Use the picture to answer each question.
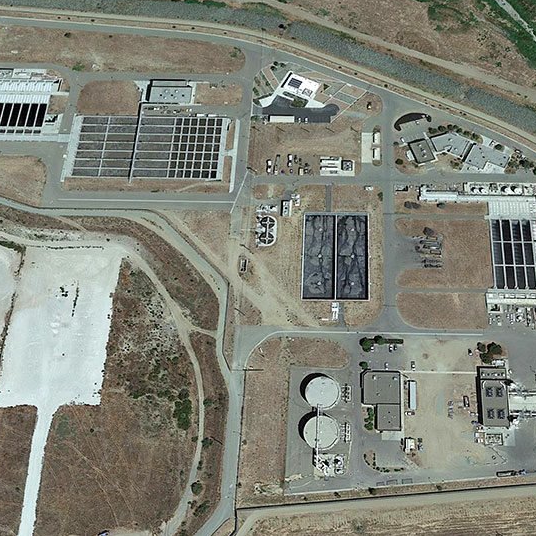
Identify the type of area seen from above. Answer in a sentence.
This looks like an industrial area.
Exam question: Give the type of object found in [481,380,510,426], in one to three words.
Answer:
building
